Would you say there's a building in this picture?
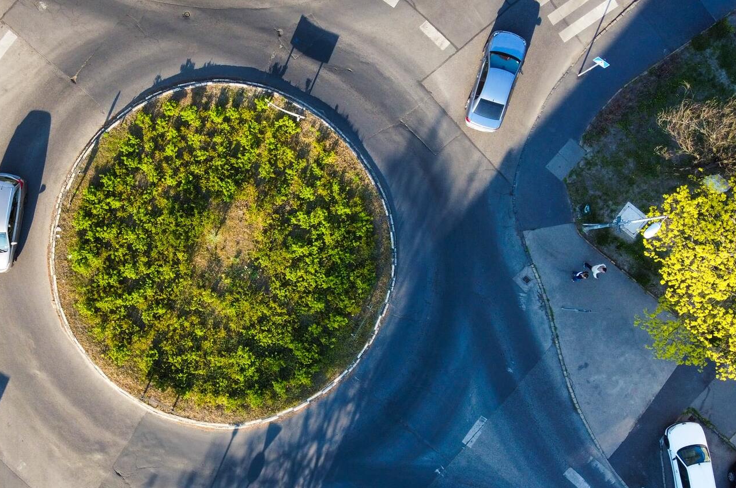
No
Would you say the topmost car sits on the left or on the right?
right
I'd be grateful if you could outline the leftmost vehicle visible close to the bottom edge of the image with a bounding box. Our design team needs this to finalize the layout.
[660,420,719,488]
